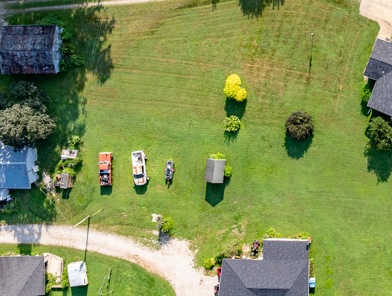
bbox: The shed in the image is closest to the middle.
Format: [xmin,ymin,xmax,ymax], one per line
[204,156,226,184]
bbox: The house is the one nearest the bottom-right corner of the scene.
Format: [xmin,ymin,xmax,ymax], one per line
[219,240,314,296]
